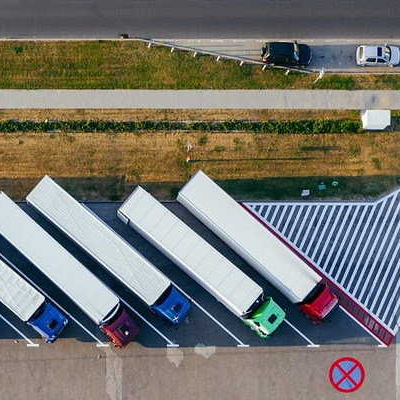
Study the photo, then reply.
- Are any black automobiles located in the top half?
Yes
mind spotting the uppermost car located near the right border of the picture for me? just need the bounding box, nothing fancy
[354,41,400,69]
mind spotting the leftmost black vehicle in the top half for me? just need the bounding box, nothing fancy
[260,40,312,69]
